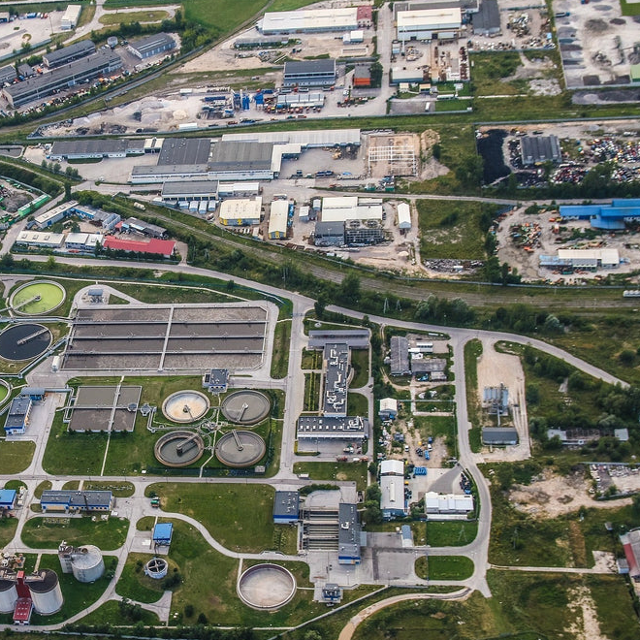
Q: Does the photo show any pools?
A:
No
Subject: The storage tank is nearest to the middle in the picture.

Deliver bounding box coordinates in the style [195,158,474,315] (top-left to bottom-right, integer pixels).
[221,390,271,425]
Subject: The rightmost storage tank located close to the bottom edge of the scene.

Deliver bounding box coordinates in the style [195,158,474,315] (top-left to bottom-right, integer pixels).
[238,563,296,610]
